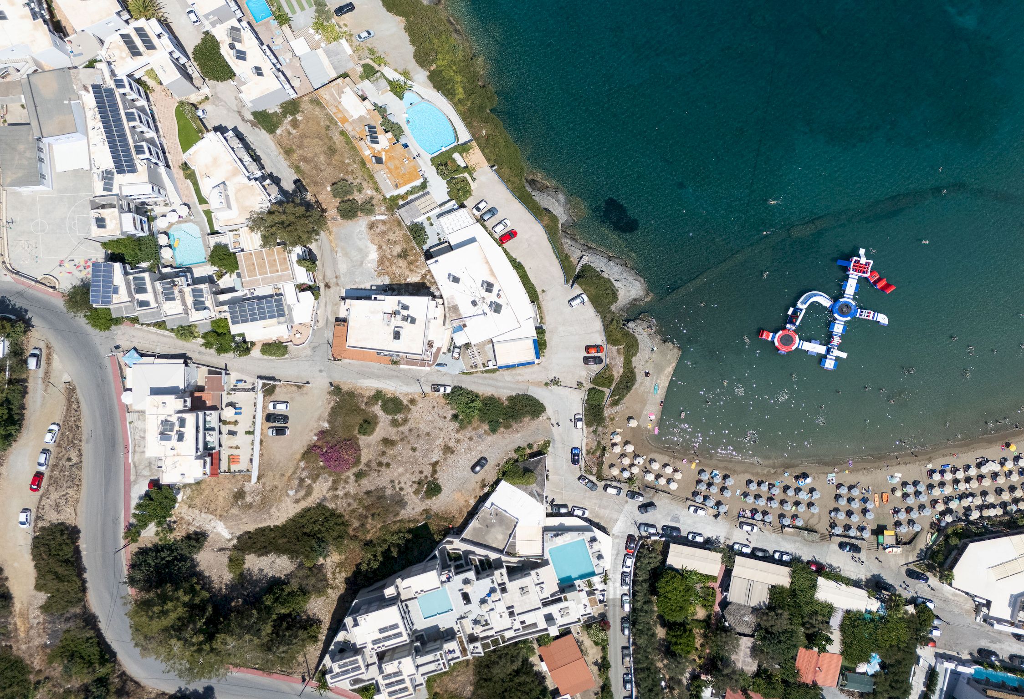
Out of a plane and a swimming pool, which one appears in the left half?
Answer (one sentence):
The feature located in the left half is a swimming pool.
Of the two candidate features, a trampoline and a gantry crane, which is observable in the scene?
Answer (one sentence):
Of the two, only a trampoline appears.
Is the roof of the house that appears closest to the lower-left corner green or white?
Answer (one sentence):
From above, the roof of the house that appears closest to the lower-left corner appears white.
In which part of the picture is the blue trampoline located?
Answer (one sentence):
Look in the right portion of the view to spot the blue trampoline.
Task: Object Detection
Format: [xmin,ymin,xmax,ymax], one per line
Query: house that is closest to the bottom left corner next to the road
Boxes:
[146,375,231,483]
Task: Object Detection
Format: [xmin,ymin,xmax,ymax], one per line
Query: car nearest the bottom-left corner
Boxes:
[19,506,33,529]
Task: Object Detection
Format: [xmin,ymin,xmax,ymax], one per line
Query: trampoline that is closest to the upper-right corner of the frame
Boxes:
[832,297,857,322]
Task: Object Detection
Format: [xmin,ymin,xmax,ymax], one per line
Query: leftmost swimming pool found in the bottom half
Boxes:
[415,584,456,621]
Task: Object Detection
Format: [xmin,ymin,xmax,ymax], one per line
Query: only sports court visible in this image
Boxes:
[7,169,106,287]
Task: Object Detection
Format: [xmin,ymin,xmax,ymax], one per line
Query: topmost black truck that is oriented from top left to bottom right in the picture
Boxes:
[289,174,310,196]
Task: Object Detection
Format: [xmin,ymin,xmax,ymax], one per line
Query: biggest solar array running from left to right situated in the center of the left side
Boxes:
[229,297,285,324]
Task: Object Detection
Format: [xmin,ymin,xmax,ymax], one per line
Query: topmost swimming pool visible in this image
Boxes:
[246,0,275,25]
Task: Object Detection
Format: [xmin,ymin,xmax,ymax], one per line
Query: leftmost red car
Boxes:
[30,471,45,492]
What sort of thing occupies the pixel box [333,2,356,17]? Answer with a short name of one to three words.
car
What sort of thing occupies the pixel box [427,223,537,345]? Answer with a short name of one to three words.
building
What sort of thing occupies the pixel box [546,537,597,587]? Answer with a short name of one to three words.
swimming pool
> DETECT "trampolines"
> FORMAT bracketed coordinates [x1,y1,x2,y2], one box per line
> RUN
[832,297,857,322]
[774,328,799,353]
